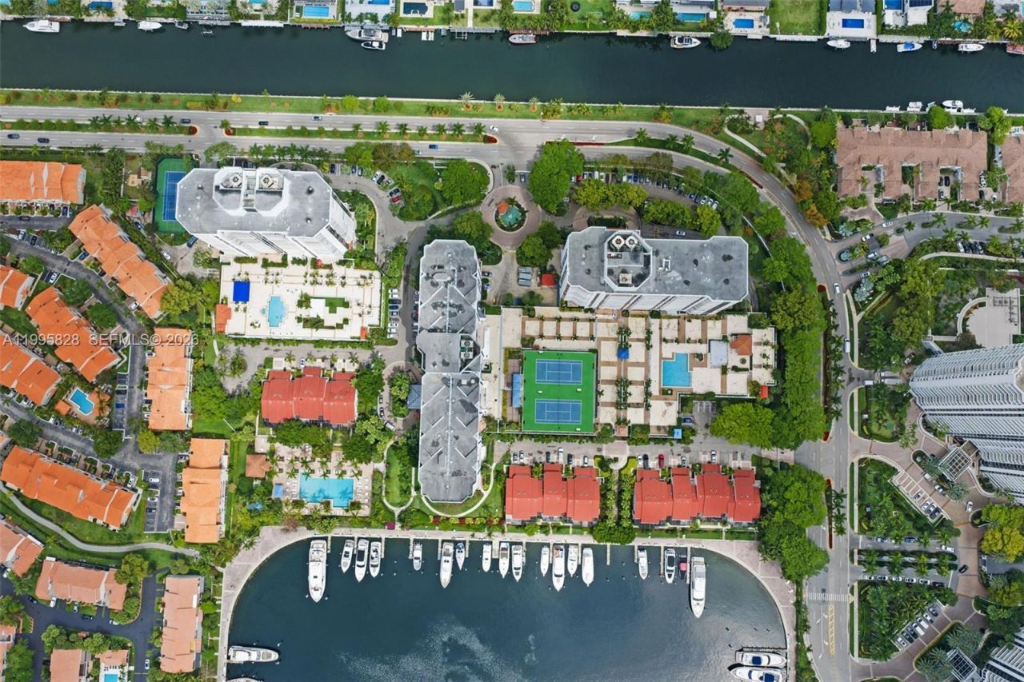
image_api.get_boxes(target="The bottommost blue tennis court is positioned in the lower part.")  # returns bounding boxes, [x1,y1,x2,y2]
[535,399,581,425]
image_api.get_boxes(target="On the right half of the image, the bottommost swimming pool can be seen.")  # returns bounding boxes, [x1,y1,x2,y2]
[662,353,693,387]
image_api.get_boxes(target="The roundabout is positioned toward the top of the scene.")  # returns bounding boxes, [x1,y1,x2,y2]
[480,187,541,247]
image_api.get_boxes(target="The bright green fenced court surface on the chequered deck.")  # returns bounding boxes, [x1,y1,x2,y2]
[522,350,598,434]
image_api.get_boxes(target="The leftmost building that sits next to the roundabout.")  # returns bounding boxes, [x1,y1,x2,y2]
[415,239,484,374]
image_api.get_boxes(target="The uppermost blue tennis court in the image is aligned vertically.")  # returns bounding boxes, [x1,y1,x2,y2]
[163,171,188,221]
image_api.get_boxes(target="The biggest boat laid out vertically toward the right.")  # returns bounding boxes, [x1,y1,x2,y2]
[691,556,706,620]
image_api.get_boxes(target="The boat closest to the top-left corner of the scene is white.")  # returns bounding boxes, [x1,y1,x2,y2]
[21,20,62,32]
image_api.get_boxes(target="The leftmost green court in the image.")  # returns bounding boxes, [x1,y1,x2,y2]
[155,156,195,232]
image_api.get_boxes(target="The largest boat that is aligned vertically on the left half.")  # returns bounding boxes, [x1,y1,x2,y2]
[308,540,326,604]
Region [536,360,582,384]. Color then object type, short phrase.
blue tennis court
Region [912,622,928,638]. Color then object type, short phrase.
white vehicle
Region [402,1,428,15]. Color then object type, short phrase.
blue swimming pool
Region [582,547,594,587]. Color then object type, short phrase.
white boat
